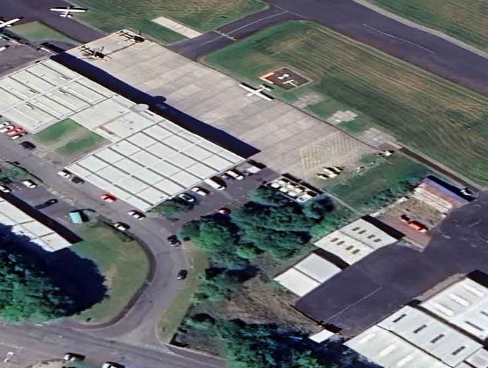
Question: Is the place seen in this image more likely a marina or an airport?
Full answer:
The area seen from above is an airport.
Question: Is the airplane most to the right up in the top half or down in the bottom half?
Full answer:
The airplane most to the right sits in the top half of the picture.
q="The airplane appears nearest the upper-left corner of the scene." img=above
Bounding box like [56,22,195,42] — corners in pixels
[0,14,19,29]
